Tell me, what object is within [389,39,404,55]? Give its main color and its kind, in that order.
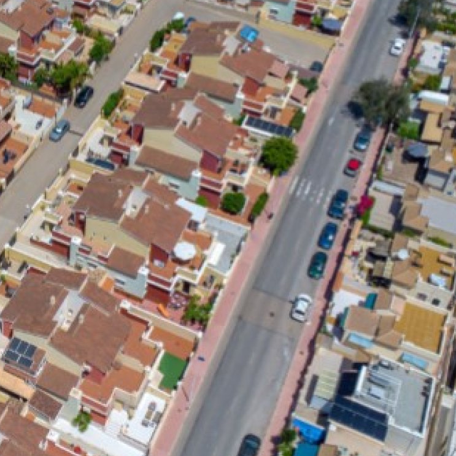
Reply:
white car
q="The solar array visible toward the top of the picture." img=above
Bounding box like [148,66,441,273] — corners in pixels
[249,117,289,137]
